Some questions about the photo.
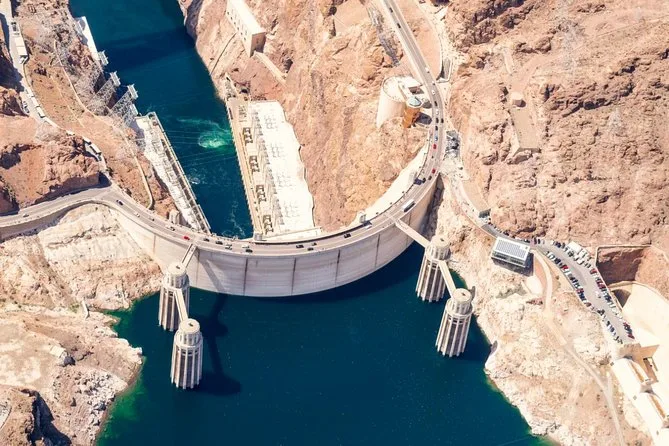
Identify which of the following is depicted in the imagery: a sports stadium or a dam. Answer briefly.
dam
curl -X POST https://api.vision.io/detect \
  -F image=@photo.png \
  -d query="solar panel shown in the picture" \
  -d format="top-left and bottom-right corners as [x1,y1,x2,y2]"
[494,238,528,258]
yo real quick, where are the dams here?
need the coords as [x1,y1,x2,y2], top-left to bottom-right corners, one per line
[105,140,447,298]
